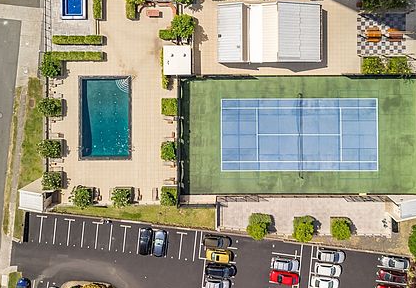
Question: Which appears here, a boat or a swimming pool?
swimming pool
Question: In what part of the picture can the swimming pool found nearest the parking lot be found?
left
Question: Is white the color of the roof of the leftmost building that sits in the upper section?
Yes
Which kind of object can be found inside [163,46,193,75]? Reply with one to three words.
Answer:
building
